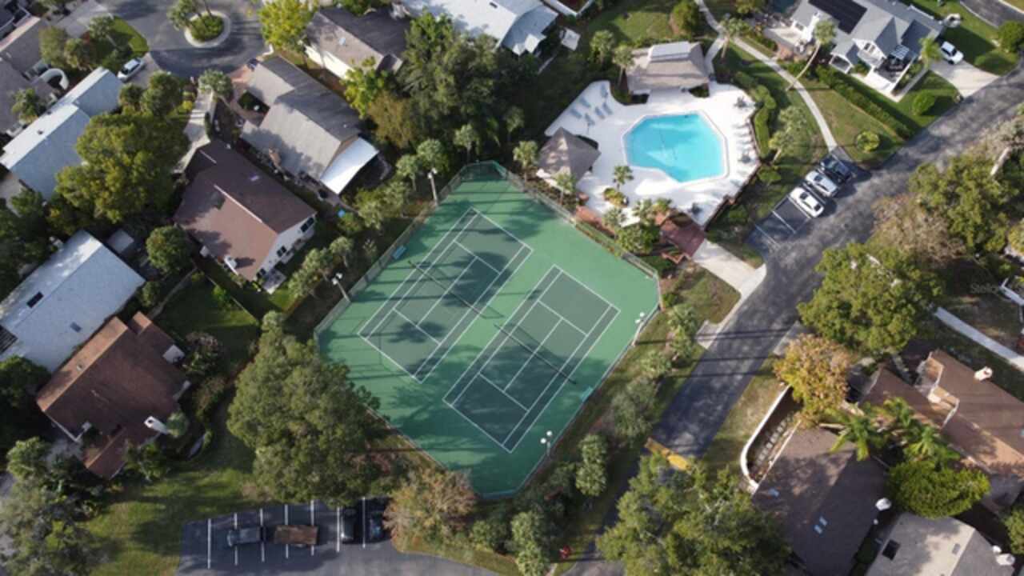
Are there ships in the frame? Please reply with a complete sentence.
No, the photo shows no ship.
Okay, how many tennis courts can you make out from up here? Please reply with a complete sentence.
The count of tennis courts comes to 2.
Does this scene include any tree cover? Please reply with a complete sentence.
Yes, the picture does contain tree cover.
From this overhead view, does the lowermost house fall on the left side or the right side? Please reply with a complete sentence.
The lowermost house appears in the right half of the scene.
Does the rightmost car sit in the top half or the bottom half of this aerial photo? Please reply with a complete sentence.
The rightmost car is in the top half of the image.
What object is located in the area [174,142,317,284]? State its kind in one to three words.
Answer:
house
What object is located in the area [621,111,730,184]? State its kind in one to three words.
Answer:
swimming pool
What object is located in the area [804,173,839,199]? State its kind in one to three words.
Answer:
car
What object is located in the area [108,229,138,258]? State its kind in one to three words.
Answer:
shed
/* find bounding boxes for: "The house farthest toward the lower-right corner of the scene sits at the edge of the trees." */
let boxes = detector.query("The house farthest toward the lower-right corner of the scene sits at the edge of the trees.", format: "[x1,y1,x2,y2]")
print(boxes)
[863,511,1016,576]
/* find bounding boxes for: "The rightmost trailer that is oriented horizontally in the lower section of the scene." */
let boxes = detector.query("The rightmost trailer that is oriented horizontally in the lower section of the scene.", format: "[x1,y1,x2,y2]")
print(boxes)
[268,523,319,547]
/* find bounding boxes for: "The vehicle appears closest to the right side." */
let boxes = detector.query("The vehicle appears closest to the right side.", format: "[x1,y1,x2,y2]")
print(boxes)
[936,37,968,64]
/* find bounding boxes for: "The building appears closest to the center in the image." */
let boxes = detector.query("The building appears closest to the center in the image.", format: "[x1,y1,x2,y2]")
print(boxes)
[537,130,602,181]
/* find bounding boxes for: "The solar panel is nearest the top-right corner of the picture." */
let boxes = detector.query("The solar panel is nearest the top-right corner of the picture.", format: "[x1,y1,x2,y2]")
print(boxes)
[811,0,870,34]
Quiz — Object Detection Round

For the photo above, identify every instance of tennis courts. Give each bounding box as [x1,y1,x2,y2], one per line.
[401,225,658,496]
[320,175,571,428]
